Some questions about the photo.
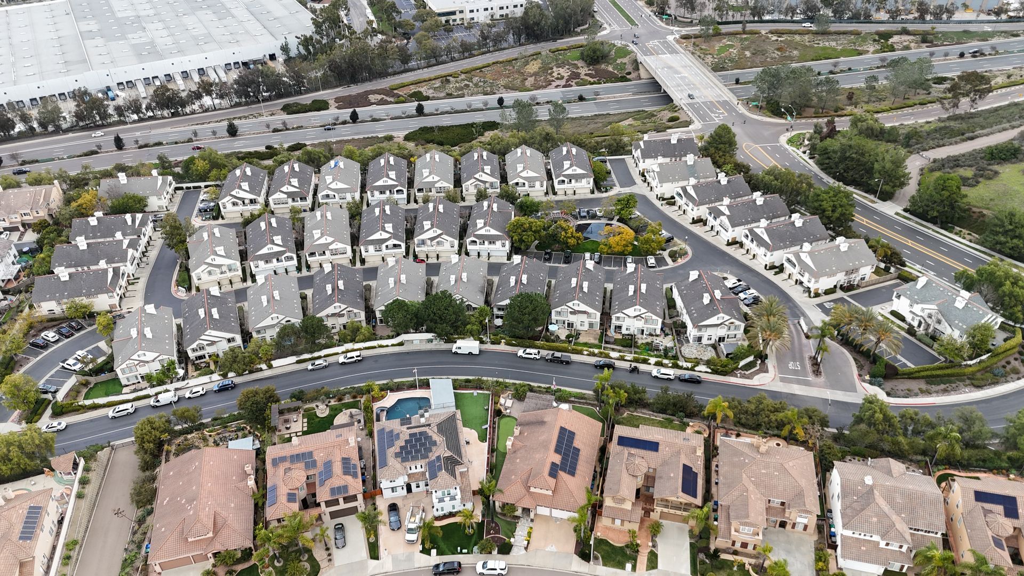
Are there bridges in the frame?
Yes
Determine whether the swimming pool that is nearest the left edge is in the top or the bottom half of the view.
bottom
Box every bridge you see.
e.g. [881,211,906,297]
[631,39,744,122]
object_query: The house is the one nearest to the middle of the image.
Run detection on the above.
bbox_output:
[492,252,545,326]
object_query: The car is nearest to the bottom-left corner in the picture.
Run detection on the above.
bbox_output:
[39,419,67,434]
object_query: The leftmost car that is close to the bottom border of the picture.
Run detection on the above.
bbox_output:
[332,522,346,549]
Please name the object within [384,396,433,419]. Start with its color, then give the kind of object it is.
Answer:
blue swimming pool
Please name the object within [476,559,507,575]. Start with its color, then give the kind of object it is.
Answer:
white car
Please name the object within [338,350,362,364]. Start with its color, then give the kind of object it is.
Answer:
white car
